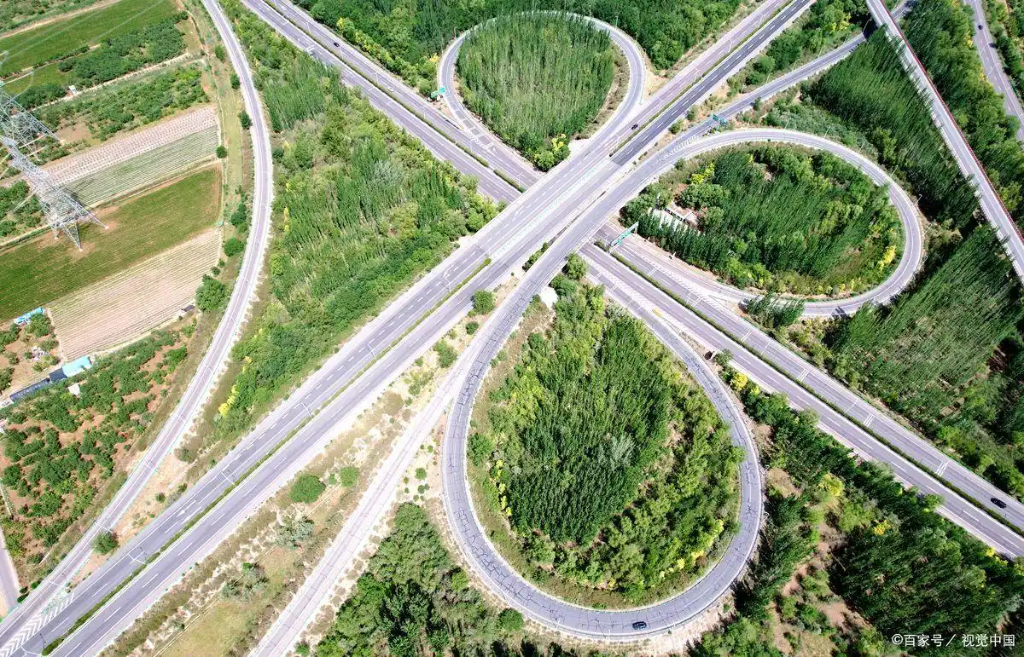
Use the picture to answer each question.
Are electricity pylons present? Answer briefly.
Yes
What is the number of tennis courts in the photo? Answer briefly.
zero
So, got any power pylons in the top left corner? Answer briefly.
Yes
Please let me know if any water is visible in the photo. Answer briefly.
No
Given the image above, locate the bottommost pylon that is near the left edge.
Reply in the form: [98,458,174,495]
[1,145,107,251]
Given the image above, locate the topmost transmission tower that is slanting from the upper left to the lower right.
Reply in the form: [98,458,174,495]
[0,74,64,160]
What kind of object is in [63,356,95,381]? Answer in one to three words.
building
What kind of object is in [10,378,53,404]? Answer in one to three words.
shed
